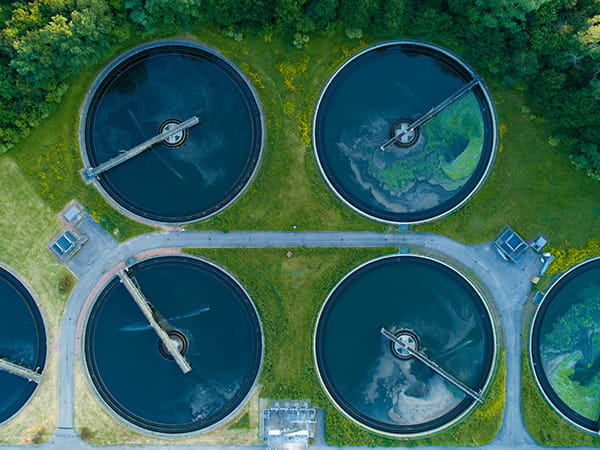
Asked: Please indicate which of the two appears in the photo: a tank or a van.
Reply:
tank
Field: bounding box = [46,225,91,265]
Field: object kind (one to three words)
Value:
building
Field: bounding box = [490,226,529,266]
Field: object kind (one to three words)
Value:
building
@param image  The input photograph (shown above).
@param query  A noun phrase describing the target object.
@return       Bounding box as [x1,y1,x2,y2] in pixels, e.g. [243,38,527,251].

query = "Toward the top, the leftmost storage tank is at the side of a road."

[80,39,264,223]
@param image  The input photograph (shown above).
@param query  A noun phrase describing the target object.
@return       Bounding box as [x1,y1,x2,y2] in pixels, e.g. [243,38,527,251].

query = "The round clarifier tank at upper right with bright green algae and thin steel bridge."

[312,39,497,224]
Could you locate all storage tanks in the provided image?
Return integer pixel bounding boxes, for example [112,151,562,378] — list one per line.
[0,262,48,424]
[83,255,265,437]
[312,254,497,438]
[529,256,600,438]
[80,39,264,223]
[312,39,497,224]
